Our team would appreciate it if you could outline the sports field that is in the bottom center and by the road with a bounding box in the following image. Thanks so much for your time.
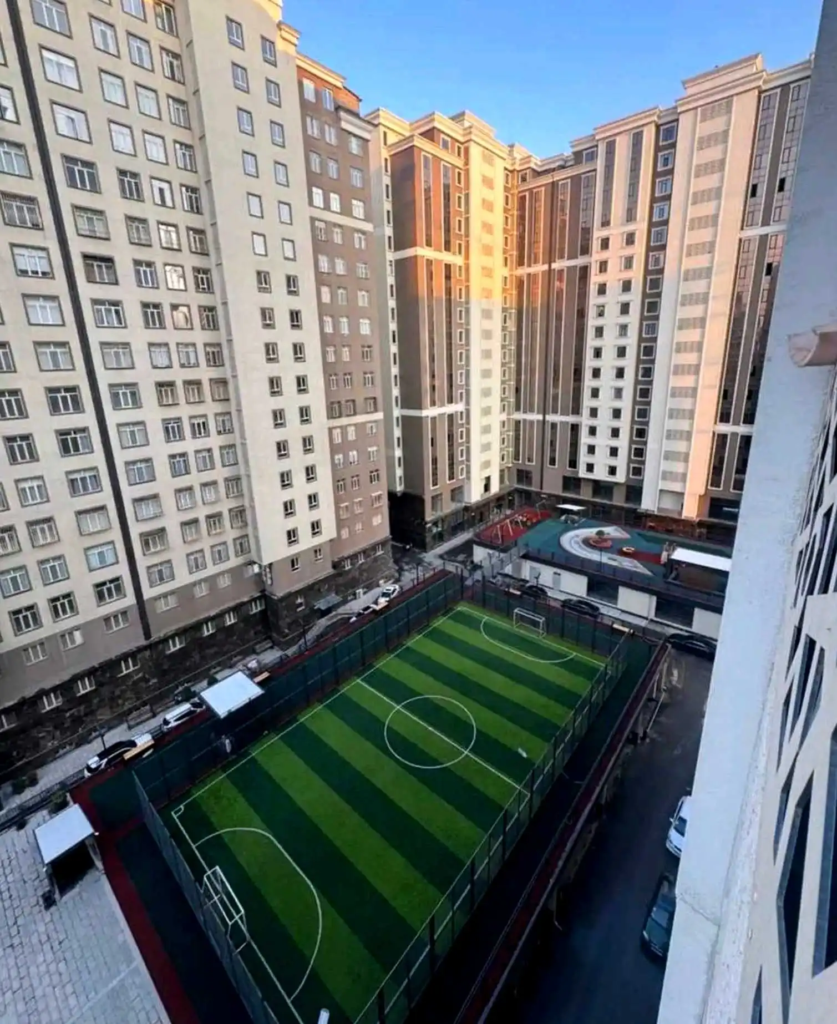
[158,599,625,1024]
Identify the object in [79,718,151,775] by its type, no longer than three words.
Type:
car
